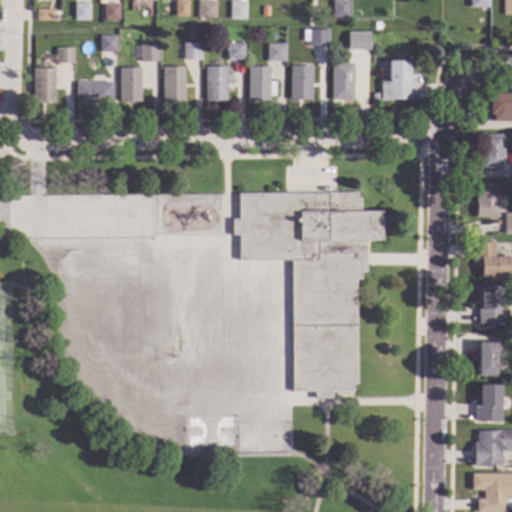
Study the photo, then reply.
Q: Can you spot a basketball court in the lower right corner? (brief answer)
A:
No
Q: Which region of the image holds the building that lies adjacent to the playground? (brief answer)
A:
center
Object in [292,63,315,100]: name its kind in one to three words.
house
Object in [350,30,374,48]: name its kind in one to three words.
building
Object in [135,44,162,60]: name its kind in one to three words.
building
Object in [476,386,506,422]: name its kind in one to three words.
house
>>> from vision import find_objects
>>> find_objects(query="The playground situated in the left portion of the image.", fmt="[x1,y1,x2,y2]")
[158,196,223,234]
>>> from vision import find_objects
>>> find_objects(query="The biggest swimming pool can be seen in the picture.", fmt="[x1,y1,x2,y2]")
[81,40,96,56]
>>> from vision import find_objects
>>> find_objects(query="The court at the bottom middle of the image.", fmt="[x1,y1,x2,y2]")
[180,416,239,453]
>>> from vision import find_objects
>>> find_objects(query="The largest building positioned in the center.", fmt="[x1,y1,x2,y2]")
[233,192,386,398]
